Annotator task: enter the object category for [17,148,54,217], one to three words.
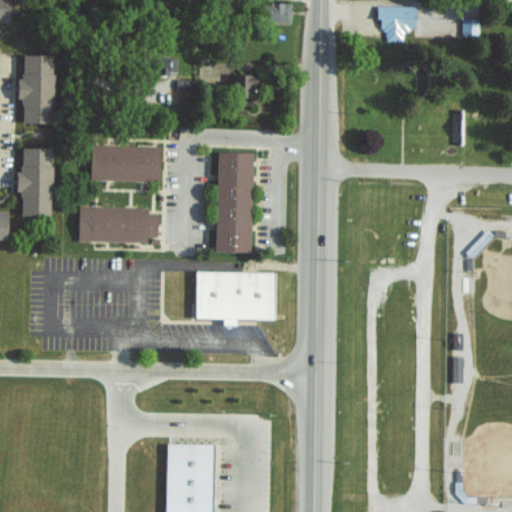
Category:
building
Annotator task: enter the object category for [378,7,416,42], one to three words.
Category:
house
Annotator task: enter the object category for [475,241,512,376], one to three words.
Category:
baseball field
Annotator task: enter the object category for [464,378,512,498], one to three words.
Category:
baseball field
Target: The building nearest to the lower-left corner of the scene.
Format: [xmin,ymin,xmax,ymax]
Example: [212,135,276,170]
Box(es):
[168,443,215,512]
